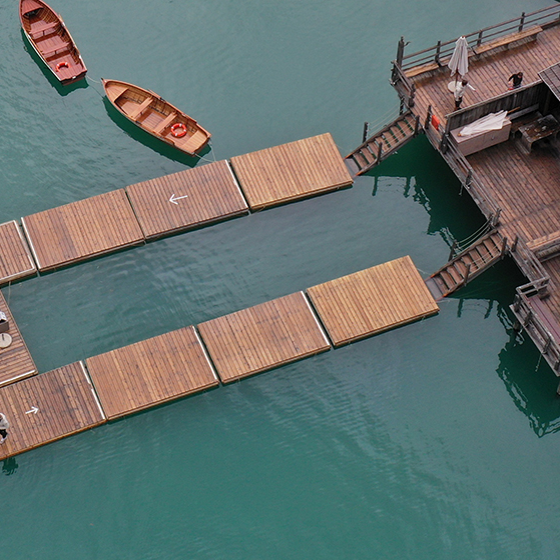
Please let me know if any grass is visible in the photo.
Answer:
No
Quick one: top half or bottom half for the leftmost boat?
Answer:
top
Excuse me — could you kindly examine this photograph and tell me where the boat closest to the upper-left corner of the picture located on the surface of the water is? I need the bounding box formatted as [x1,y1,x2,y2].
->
[20,0,88,86]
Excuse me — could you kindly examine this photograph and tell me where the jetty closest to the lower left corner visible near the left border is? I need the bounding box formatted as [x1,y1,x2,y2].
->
[0,362,108,460]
